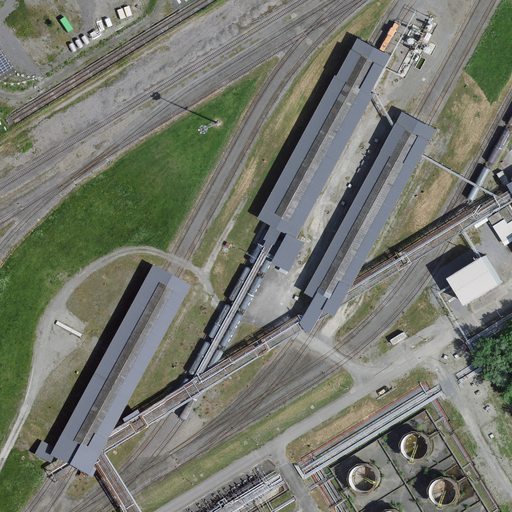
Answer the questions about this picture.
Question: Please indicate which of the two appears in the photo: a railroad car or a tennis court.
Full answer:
The image shows a railroad car.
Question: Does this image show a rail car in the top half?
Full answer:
Yes, the scene does show a rail car in the top half.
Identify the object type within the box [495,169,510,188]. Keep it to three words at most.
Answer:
vehicle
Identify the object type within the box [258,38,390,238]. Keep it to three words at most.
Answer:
shed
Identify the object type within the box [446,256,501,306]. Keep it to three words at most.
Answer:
building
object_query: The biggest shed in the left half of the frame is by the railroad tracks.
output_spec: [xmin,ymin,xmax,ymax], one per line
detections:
[52,264,194,478]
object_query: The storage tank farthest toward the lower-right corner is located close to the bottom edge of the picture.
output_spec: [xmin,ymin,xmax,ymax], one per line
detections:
[428,476,460,508]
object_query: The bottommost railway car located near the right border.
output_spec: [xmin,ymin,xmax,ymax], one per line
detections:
[469,166,492,202]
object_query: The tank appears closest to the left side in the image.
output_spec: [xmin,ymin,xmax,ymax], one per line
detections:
[348,462,381,494]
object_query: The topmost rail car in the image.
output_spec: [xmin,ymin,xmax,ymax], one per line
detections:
[380,22,400,50]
